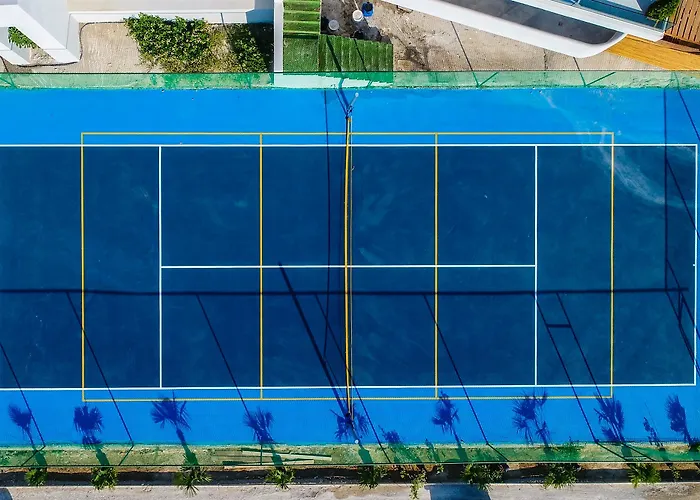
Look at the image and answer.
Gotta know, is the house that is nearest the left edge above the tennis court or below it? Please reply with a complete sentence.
It's above the tennis court that the house that is nearest the left edge shows up.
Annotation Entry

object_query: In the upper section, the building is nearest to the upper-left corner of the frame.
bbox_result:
[0,0,79,62]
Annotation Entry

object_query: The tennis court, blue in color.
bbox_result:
[0,88,700,446]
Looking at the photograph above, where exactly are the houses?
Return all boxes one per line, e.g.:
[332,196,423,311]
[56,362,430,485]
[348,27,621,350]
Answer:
[0,0,79,62]
[391,0,679,56]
